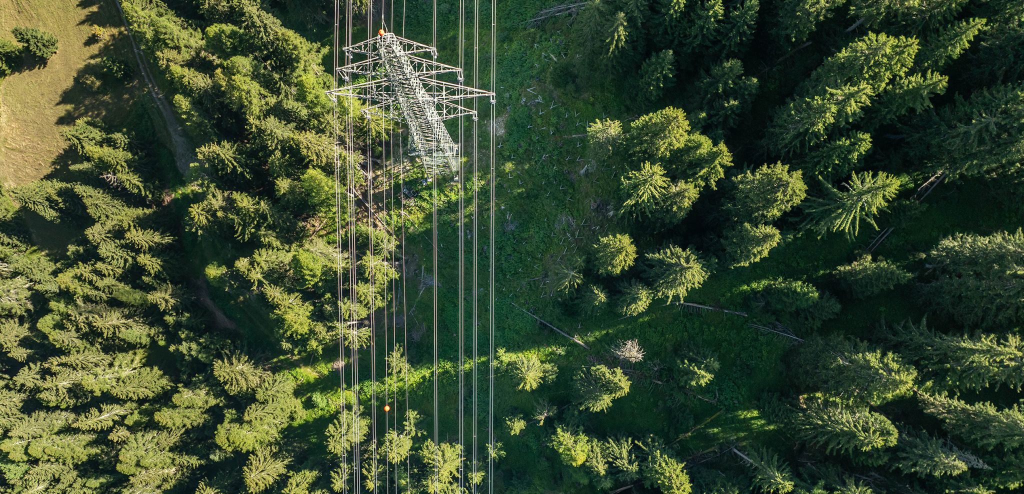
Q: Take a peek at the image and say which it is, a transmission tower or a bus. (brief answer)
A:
transmission tower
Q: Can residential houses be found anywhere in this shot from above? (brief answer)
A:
No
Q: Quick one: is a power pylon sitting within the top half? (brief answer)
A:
Yes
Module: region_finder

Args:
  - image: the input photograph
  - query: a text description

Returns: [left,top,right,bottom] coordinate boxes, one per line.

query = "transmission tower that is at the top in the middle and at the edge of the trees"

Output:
[325,15,500,183]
